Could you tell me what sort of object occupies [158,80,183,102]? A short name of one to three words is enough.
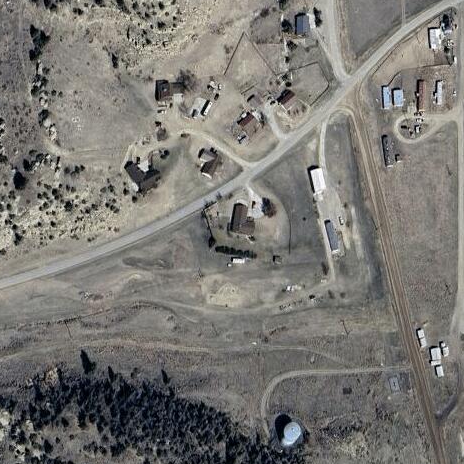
house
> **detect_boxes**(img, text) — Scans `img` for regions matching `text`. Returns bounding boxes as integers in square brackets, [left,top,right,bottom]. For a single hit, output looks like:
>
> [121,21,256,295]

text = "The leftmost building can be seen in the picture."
[125,160,161,190]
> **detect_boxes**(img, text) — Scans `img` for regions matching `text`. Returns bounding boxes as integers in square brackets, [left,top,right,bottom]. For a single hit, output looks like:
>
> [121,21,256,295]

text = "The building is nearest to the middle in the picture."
[232,204,256,234]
